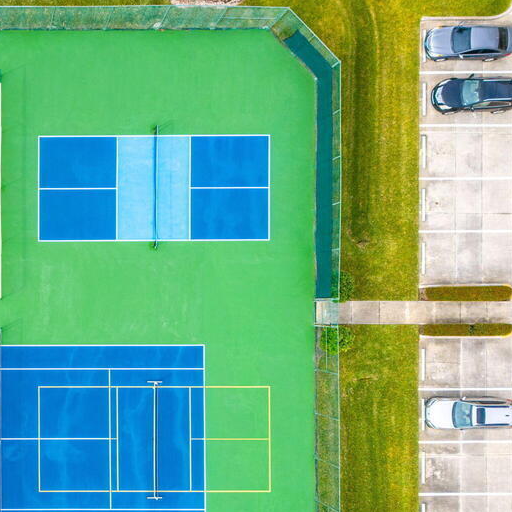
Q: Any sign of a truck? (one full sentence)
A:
No, I can't see a single truck in this photo.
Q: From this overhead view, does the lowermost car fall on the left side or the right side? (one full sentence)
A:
You can find the lowermost car on the right side of the picture.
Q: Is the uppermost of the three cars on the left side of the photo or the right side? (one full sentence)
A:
The uppermost of the three cars is on the right side of the image.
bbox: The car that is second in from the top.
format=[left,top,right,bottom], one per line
[427,72,512,114]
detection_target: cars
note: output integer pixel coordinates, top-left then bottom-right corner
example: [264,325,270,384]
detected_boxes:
[423,395,512,434]
[427,72,512,114]
[422,20,511,62]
